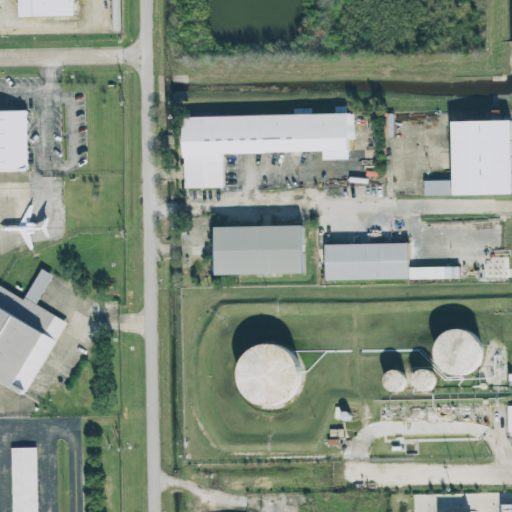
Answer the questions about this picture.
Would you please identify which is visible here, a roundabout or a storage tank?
storage tank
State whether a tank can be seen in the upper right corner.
No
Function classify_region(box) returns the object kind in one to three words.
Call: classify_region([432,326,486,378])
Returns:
storage tank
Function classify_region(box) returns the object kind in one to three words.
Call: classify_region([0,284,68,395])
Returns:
hangar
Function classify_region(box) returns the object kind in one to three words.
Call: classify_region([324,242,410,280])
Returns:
shed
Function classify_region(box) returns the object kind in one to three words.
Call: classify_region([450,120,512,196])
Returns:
building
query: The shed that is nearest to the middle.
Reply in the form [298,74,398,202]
[212,225,306,276]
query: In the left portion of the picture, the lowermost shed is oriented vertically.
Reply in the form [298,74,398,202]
[12,447,40,512]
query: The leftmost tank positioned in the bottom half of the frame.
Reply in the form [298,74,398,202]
[235,344,301,406]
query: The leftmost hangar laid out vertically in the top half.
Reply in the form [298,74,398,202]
[0,110,30,172]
